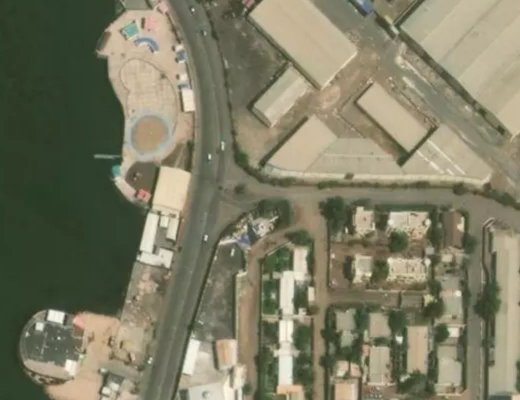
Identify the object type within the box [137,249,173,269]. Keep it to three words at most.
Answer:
house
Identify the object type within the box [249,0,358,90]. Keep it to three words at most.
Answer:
building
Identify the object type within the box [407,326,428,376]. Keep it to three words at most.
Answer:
house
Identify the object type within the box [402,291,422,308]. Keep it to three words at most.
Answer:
shed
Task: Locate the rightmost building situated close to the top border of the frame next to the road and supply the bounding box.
[400,0,520,140]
